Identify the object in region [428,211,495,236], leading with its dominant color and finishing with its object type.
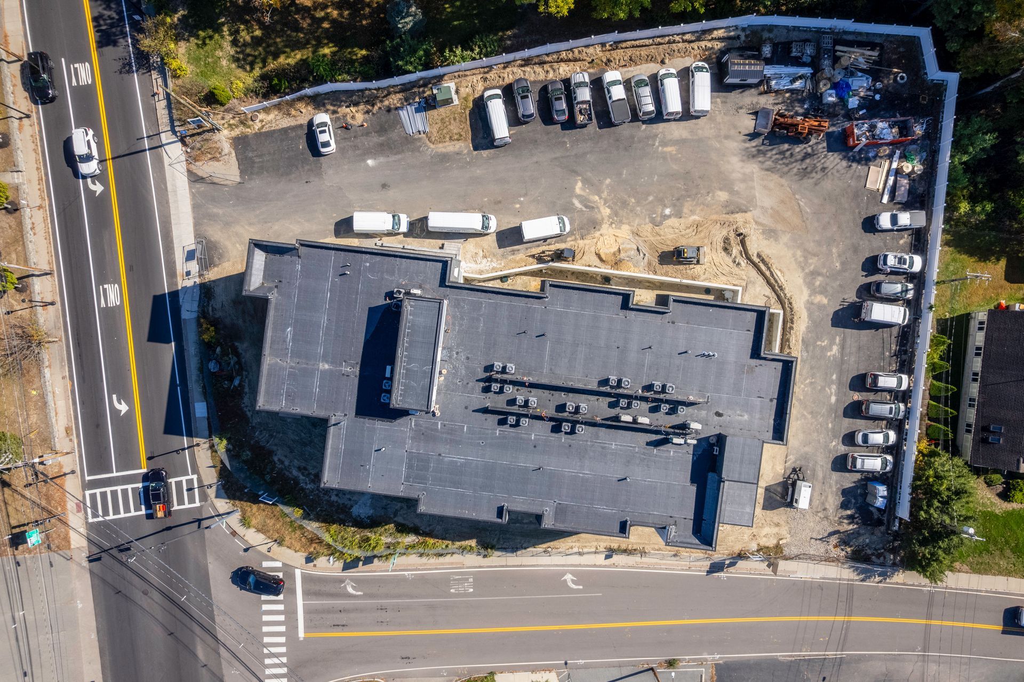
white vehicle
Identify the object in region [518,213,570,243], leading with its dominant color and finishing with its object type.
white van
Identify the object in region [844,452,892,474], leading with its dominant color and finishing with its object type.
white car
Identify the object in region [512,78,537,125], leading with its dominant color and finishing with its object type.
gray car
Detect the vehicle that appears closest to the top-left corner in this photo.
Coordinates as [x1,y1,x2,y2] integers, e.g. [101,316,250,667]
[27,52,60,103]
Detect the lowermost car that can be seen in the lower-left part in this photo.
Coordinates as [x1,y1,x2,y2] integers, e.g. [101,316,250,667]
[236,565,285,595]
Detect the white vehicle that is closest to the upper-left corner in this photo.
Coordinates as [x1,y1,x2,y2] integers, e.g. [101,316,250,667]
[70,126,106,179]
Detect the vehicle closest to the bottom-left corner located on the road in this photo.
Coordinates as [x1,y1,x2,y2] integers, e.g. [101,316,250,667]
[146,465,175,521]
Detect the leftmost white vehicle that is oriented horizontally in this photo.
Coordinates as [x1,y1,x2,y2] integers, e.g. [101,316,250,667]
[352,212,409,236]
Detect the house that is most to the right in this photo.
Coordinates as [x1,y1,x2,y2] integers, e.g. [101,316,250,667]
[956,308,1024,472]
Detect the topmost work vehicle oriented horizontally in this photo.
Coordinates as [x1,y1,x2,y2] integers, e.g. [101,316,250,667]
[755,109,835,144]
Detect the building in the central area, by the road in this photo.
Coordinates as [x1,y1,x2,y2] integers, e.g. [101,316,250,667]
[243,212,798,552]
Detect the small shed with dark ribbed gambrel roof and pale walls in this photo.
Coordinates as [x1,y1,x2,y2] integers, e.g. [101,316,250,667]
[724,57,767,89]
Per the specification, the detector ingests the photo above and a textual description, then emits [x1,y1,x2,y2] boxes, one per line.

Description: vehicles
[862,370,908,393]
[569,72,594,129]
[236,565,285,595]
[428,211,495,236]
[672,246,705,265]
[852,428,895,450]
[857,399,905,421]
[546,79,569,125]
[310,111,338,158]
[844,452,892,474]
[70,126,106,179]
[146,465,175,521]
[535,247,575,262]
[512,78,537,125]
[871,208,926,232]
[352,212,409,236]
[654,68,685,123]
[755,109,835,144]
[481,89,510,149]
[628,74,656,122]
[867,279,913,301]
[874,251,920,274]
[27,52,60,103]
[601,71,632,128]
[518,213,570,243]
[687,63,712,119]
[855,301,908,326]
[1012,606,1024,626]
